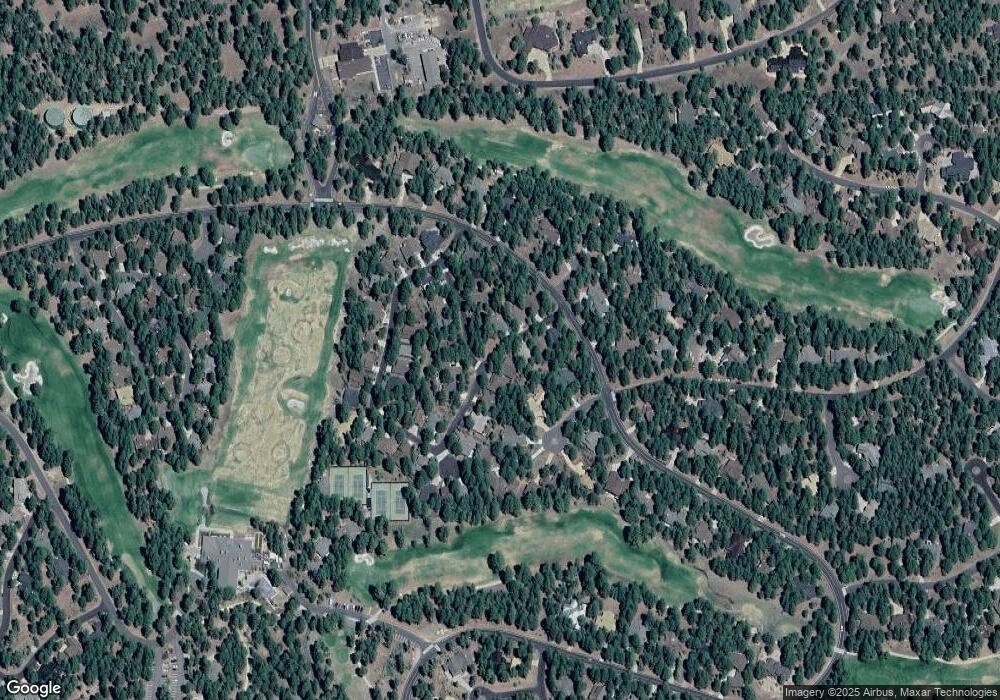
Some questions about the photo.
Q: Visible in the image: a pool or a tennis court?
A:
tennis court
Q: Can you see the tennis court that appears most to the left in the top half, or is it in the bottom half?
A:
bottom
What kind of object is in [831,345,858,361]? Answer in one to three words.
house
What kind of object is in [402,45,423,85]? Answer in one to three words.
building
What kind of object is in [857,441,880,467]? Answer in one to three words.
house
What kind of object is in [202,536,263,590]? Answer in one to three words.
building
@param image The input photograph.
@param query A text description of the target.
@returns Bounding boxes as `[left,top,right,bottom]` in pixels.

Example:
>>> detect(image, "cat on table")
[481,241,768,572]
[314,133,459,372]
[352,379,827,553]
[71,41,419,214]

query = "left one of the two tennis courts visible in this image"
[330,466,366,504]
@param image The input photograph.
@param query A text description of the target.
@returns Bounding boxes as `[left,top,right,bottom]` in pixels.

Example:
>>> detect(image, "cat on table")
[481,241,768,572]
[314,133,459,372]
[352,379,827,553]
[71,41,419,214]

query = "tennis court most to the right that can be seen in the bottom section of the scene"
[372,481,408,520]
